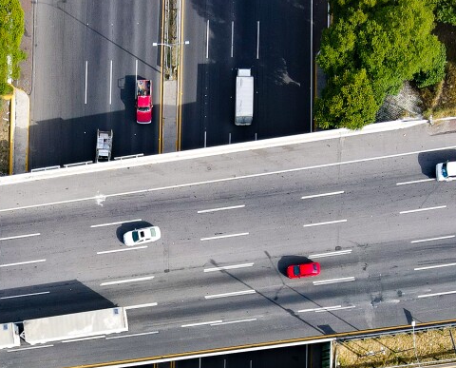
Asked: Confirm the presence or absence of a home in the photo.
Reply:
No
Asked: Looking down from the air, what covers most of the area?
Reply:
paved ground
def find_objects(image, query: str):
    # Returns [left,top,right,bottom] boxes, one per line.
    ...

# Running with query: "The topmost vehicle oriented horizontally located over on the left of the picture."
[124,227,162,247]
